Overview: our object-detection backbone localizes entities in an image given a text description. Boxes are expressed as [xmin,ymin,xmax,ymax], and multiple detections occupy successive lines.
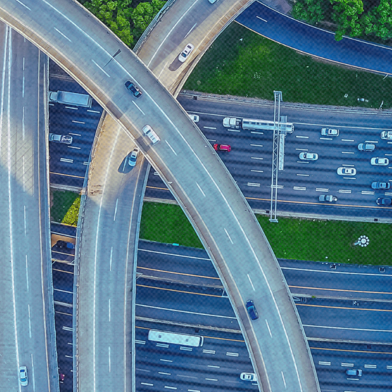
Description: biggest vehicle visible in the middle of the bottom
[148,328,205,348]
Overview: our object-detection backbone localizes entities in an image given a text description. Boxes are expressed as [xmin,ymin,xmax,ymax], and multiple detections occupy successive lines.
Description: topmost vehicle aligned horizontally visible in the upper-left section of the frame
[51,90,94,108]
